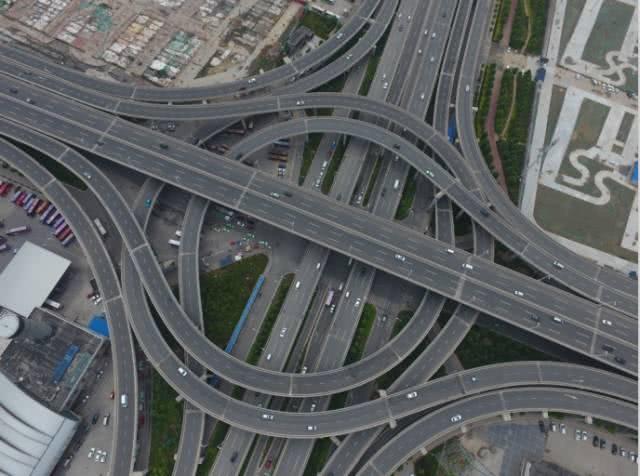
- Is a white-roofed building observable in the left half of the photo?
Yes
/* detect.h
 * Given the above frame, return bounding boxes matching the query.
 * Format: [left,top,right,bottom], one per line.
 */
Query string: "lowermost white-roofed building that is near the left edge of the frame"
[0,374,89,476]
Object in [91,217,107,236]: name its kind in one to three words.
vehicle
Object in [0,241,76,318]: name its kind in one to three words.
building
